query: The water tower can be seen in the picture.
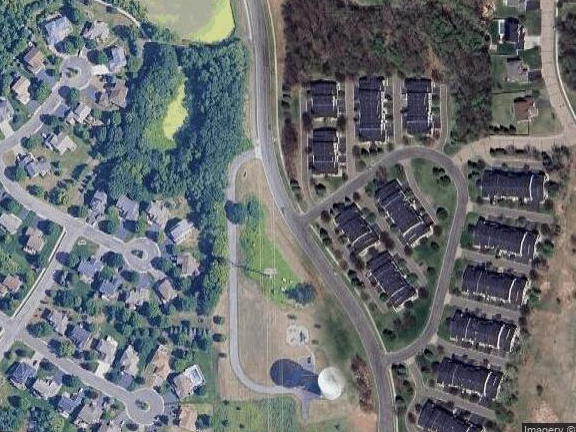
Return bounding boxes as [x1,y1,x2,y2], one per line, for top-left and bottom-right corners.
[316,368,346,397]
